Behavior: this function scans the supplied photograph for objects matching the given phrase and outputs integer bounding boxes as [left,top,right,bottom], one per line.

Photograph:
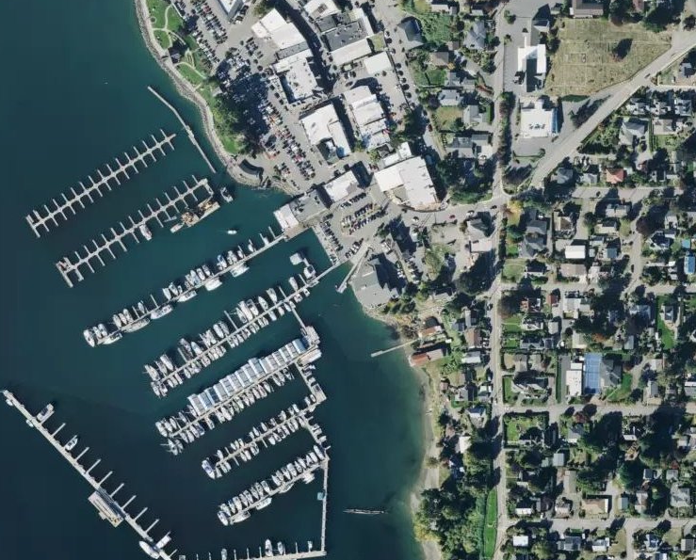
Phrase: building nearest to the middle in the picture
[346,259,398,309]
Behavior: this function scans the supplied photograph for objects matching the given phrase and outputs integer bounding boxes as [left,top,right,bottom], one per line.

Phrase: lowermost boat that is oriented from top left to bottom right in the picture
[140,542,162,560]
